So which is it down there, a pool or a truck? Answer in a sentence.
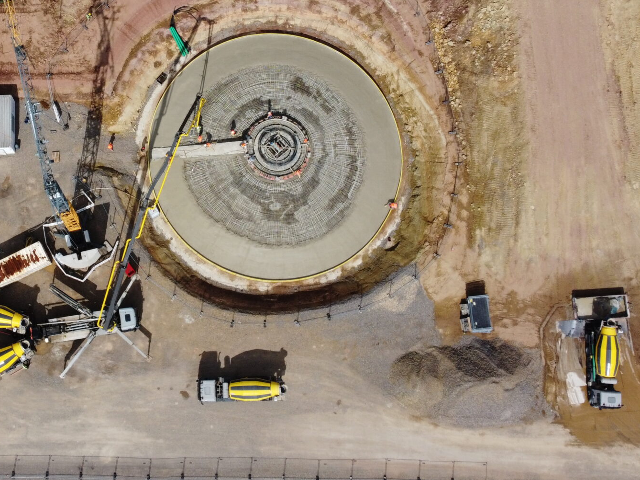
It is a truck that can be seen here.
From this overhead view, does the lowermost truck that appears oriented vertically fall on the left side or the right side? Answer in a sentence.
You can find the lowermost truck that appears oriented vertically on the right side of the picture.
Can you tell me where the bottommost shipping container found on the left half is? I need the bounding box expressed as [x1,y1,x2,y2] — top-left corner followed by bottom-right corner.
[0,243,51,286]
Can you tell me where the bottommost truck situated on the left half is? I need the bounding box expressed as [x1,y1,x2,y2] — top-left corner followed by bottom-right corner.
[195,373,287,406]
